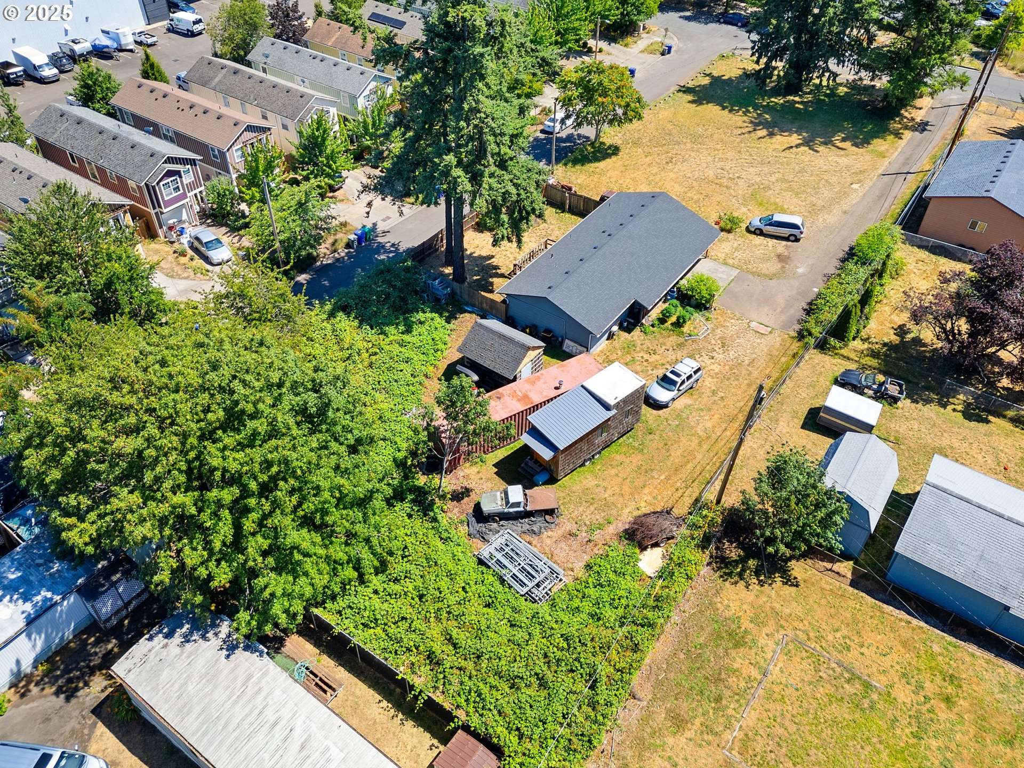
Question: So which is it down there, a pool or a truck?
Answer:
truck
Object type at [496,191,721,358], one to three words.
house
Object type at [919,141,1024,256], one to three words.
house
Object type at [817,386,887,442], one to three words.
trailer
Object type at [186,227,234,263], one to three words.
car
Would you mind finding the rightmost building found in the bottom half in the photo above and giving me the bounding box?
[881,445,1024,644]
